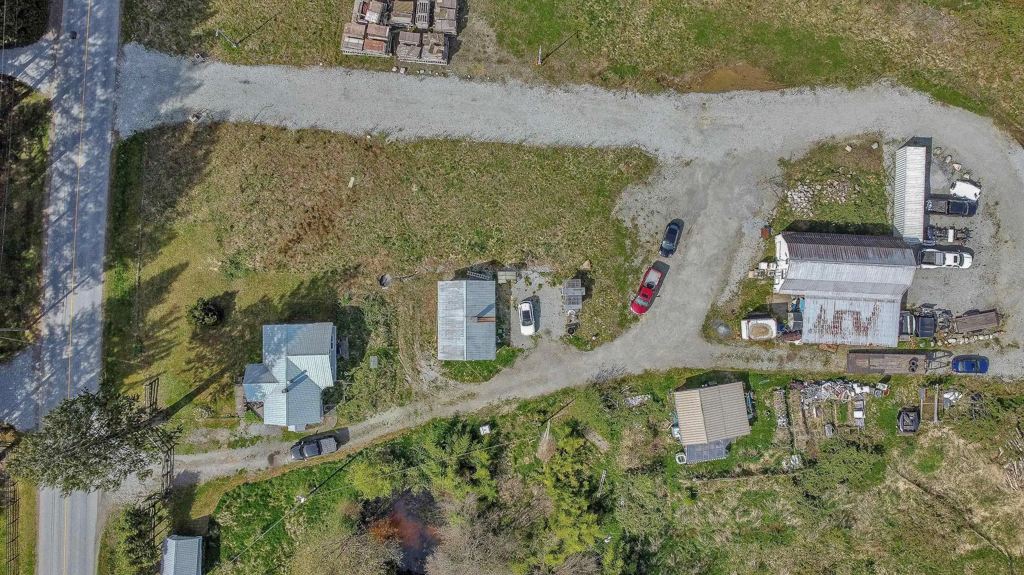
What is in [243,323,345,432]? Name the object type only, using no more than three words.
house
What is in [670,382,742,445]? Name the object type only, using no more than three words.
shed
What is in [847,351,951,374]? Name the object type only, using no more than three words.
trailer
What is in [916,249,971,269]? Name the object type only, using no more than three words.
vehicle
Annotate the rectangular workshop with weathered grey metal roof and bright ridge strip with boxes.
[438,280,496,362]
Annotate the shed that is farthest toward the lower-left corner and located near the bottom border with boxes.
[167,528,212,575]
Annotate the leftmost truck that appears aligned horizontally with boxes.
[291,434,339,460]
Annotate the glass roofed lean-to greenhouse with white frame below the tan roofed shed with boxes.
[682,440,726,466]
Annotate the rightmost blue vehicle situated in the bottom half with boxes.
[950,357,988,376]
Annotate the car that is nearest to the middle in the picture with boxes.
[518,300,537,336]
